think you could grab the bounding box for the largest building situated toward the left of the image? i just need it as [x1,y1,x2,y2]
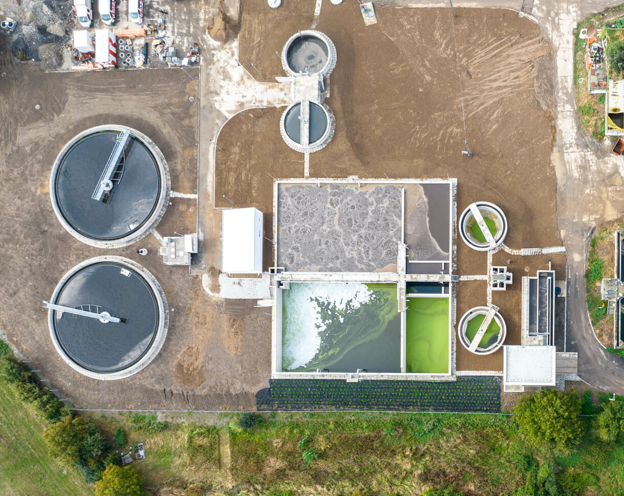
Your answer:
[222,208,265,276]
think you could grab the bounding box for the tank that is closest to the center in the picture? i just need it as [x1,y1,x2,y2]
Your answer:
[280,100,336,152]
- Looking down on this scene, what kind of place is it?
industrial area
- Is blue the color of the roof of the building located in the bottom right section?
No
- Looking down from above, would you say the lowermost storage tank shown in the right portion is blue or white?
white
